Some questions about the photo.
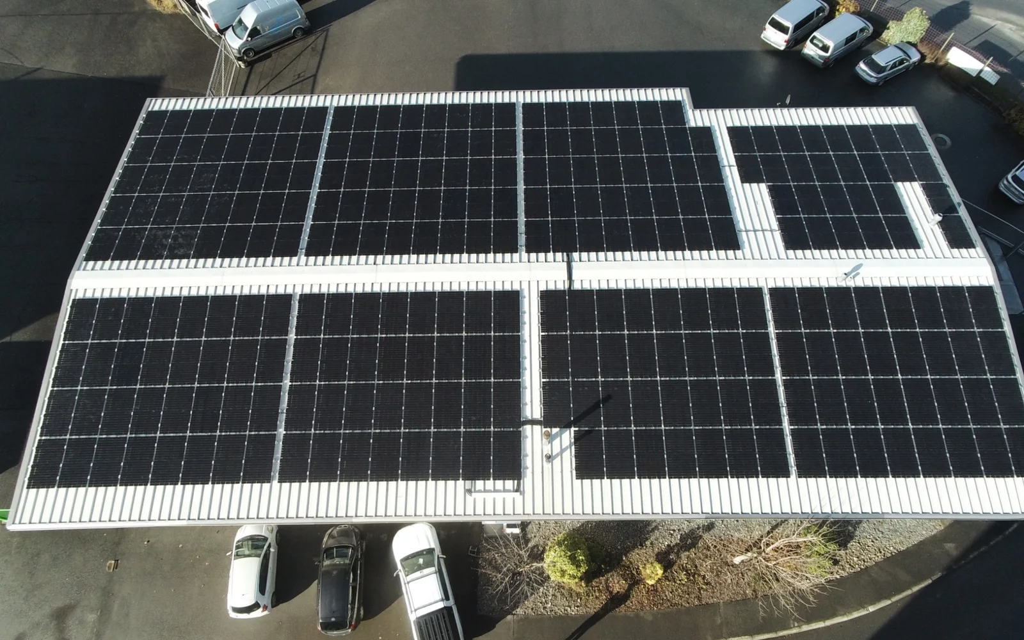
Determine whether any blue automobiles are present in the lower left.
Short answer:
No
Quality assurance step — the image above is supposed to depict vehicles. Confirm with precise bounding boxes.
[226,524,281,622]
[207,0,257,31]
[763,0,833,52]
[394,522,461,640]
[996,165,1024,205]
[802,16,872,69]
[225,0,308,59]
[856,41,925,86]
[315,523,367,635]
